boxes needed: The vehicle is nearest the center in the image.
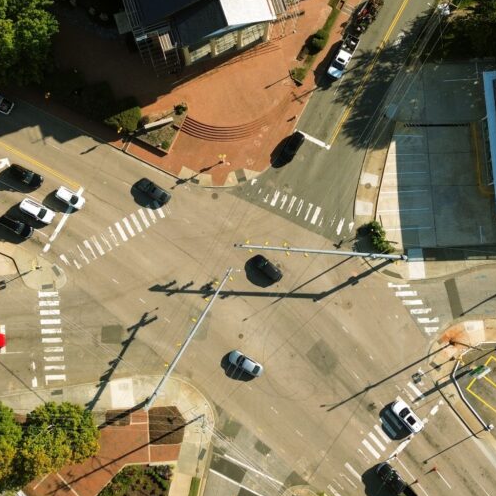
[247,251,285,283]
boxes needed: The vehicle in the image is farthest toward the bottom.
[373,458,420,496]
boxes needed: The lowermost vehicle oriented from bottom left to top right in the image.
[273,130,306,167]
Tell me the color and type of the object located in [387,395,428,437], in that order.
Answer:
white car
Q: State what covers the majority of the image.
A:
paved ground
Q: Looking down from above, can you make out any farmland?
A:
No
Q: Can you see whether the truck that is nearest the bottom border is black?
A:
Yes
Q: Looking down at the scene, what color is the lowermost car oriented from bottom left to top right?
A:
black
